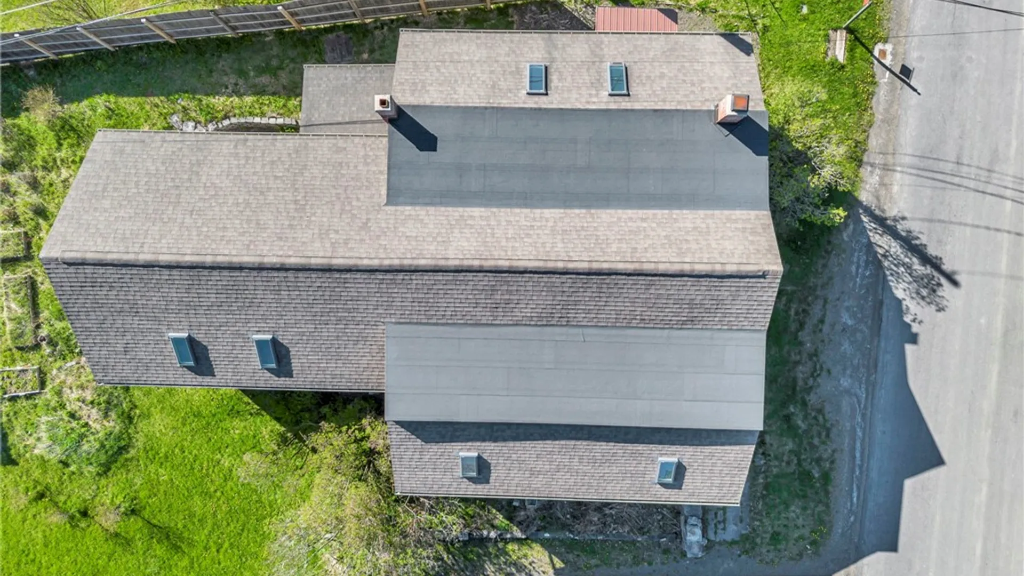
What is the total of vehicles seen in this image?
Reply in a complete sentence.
The count of vehicles is 0.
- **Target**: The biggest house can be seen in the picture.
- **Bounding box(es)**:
[39,27,782,508]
